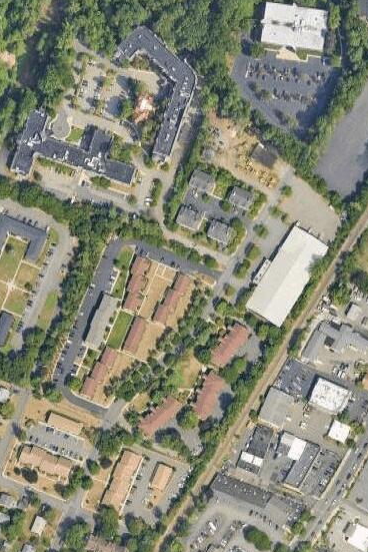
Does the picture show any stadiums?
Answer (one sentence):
No, the photo shows no stadium.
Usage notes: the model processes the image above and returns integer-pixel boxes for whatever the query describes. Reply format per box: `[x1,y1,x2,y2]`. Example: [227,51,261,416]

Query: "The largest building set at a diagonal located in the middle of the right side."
[246,225,329,328]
